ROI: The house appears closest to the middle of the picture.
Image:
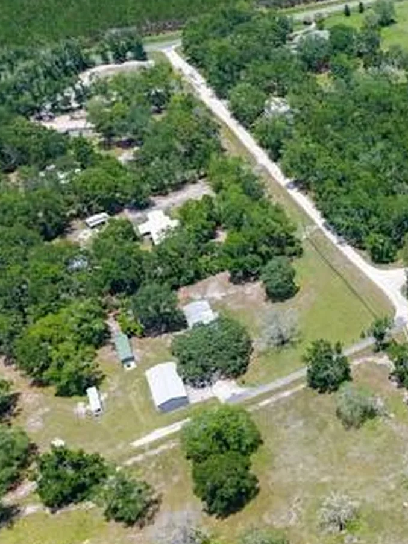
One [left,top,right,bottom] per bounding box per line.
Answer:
[175,294,220,330]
